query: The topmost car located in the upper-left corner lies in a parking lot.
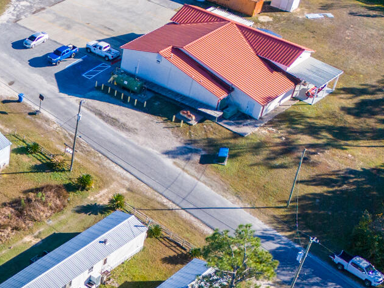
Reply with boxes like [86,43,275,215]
[22,32,49,47]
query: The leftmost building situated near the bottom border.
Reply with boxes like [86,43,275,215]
[0,208,151,288]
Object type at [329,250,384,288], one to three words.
truck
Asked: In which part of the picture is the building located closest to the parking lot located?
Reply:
top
